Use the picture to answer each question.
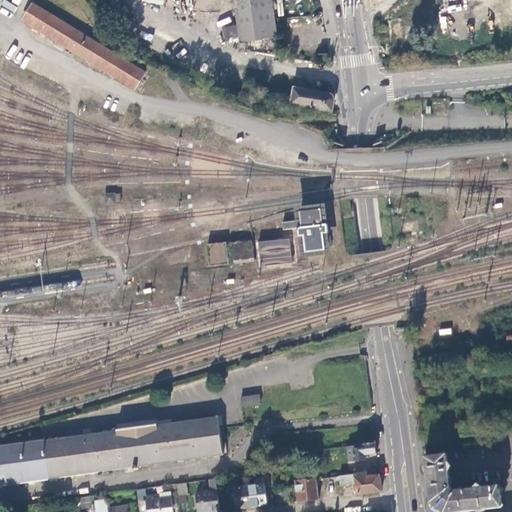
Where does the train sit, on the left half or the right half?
left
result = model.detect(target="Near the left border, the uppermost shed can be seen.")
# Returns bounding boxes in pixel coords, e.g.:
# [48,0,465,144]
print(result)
[20,3,146,90]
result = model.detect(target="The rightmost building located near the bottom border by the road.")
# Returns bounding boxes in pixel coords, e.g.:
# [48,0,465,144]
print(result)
[423,453,503,512]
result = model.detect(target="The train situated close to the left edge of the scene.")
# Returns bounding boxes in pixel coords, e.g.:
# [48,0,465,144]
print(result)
[0,280,82,300]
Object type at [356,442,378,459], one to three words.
house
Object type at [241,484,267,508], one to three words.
house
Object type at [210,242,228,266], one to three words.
building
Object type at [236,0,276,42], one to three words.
building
